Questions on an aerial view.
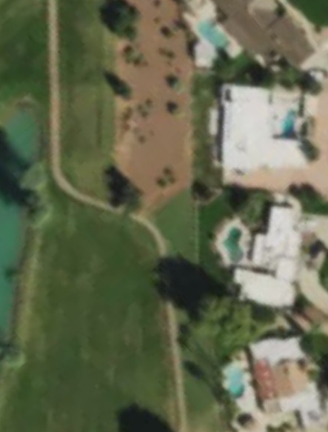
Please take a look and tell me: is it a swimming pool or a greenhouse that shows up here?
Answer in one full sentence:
The one in the frame is a swimming pool.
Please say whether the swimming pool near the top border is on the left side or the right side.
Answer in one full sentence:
The swimming pool near the top border sits on the right side.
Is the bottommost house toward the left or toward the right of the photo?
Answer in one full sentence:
You can find the bottommost house on the right side of the picture.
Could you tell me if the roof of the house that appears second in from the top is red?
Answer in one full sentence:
No, from above the roof of the house that appears second in from the top looks white.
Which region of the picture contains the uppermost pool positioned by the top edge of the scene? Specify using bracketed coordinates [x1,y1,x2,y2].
[185,0,242,66]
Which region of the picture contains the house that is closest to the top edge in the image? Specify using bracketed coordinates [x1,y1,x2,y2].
[212,0,325,67]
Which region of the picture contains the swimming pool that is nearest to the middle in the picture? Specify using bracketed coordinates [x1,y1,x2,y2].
[214,218,254,268]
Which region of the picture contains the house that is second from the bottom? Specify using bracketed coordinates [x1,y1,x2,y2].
[235,205,301,307]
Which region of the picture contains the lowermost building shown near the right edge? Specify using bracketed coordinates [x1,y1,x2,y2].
[250,337,321,427]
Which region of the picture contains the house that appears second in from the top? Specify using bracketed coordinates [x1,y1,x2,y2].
[224,86,307,174]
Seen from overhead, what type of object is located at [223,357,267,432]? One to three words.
swimming pool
